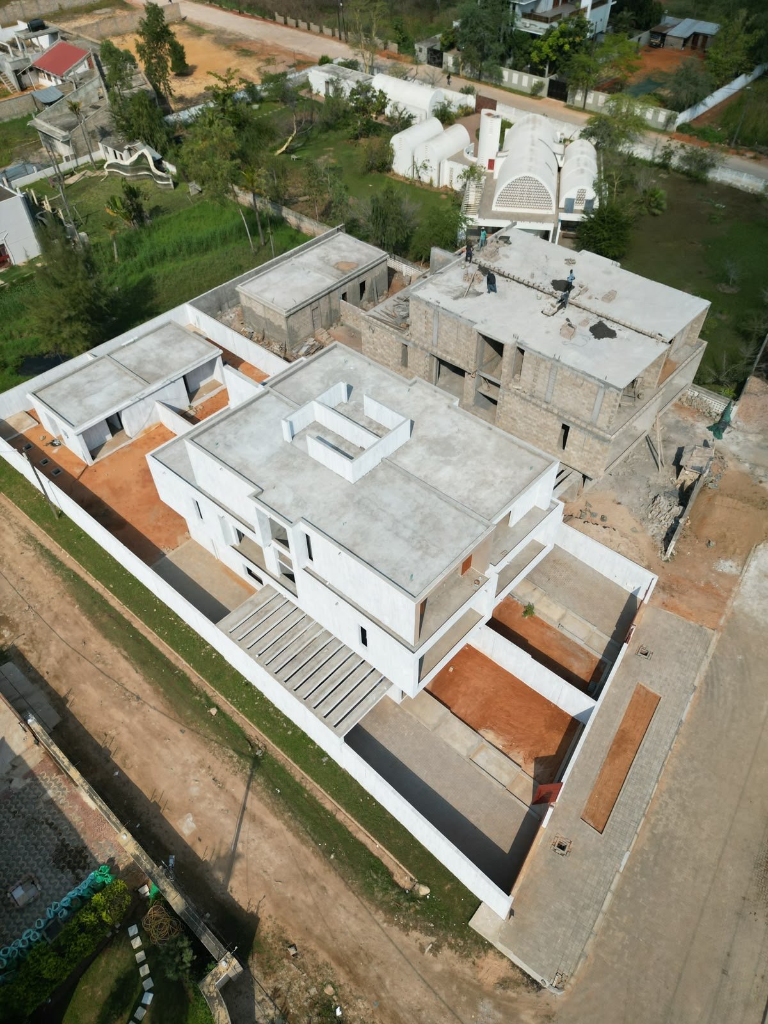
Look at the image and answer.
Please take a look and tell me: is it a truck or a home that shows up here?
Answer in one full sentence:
Visible in the photo is a home.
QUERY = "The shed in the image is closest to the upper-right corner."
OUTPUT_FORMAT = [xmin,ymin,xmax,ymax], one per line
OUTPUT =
[658,18,713,56]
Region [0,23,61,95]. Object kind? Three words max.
house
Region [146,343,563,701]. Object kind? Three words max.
house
